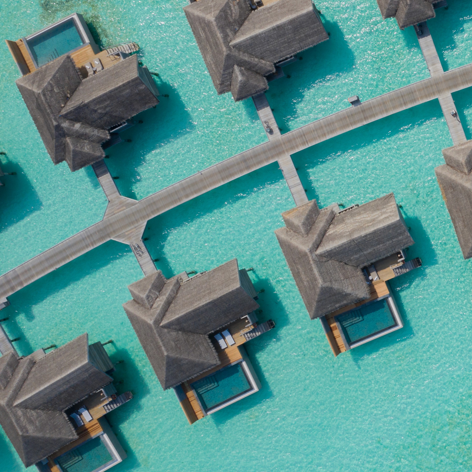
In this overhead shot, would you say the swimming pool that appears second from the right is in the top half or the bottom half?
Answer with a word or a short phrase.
bottom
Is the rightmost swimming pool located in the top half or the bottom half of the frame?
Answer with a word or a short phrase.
bottom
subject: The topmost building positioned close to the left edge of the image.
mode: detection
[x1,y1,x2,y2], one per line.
[4,39,167,175]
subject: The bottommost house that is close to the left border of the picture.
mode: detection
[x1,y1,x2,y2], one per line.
[0,329,137,472]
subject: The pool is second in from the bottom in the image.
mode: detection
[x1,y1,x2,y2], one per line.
[190,344,262,417]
